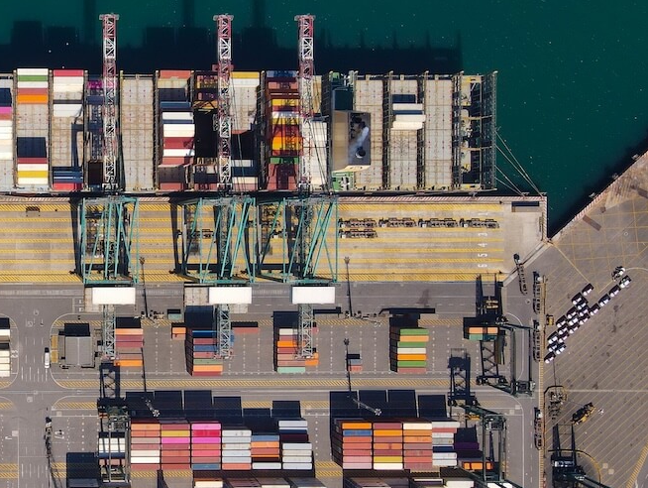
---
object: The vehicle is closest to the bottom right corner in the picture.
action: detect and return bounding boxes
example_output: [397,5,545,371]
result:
[574,401,602,422]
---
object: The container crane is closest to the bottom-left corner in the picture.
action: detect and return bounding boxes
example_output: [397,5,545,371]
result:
[101,400,134,483]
